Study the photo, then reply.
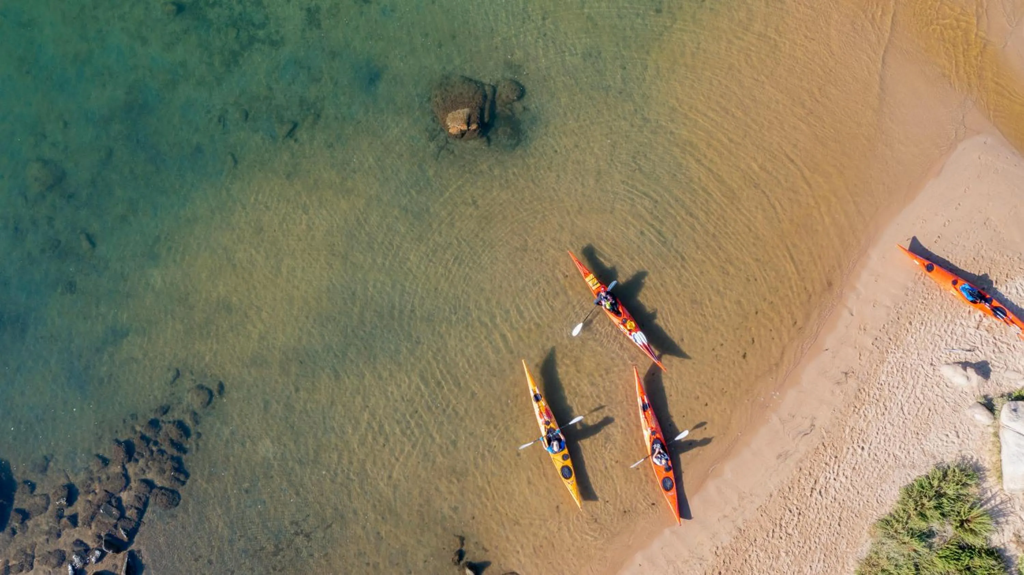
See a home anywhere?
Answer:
No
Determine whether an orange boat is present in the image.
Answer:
Yes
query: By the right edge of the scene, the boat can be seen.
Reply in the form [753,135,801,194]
[892,244,1024,331]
